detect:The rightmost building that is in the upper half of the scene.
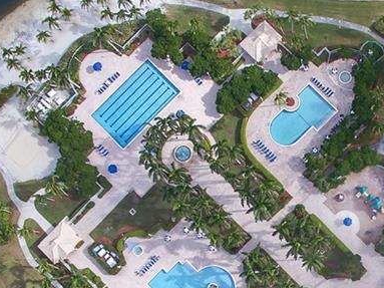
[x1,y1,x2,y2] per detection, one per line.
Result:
[239,19,282,63]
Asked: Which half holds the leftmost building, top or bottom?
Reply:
bottom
